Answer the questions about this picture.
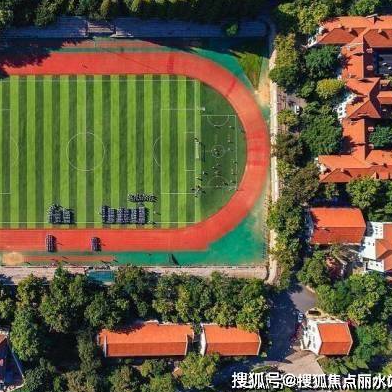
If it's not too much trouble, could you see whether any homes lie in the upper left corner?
No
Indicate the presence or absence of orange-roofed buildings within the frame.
Yes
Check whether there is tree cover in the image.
Yes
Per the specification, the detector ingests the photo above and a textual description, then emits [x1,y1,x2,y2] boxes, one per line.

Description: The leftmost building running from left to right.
[98,319,195,358]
